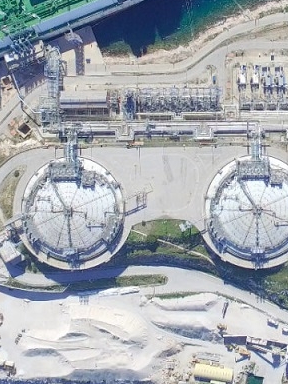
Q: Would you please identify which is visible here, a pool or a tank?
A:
tank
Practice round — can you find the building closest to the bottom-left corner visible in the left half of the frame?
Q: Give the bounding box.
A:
[0,239,26,264]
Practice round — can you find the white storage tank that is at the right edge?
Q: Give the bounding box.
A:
[202,137,288,268]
